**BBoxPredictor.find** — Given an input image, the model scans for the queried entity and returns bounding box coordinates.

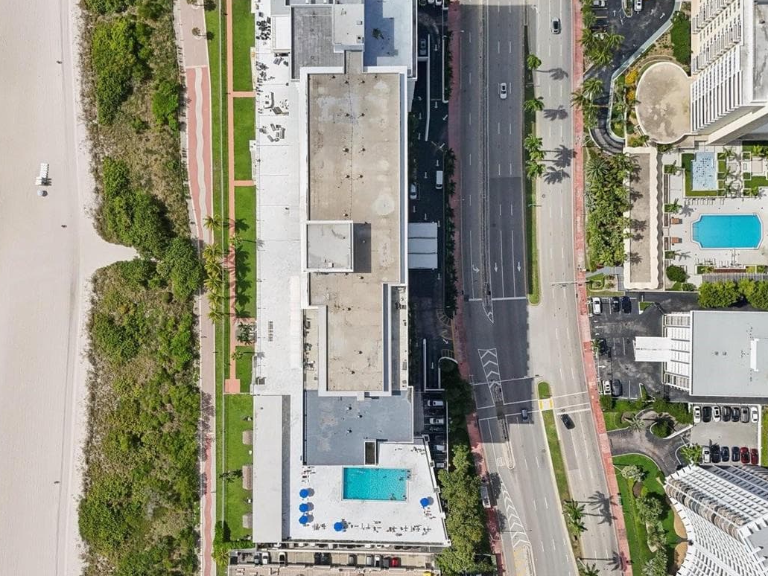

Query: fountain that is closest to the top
[692,152,717,191]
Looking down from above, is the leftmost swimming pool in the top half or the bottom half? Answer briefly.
bottom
